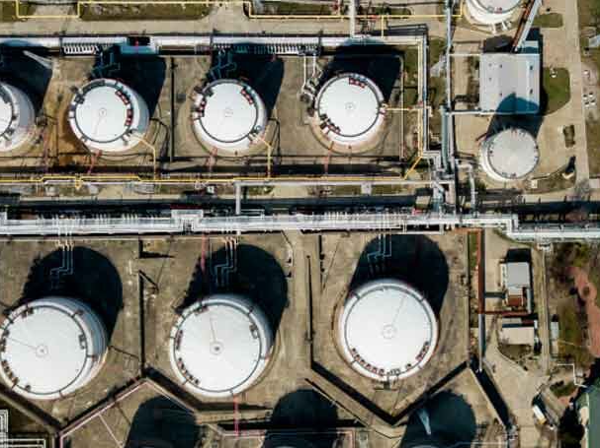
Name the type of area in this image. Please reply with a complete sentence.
This image shows an industrial area.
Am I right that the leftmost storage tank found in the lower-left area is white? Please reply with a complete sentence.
Yes, the leftmost storage tank found in the lower-left area appears white.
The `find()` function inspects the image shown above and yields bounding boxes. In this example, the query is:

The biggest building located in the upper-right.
[479,54,539,112]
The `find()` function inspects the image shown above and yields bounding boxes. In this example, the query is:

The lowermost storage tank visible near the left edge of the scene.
[0,292,111,402]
